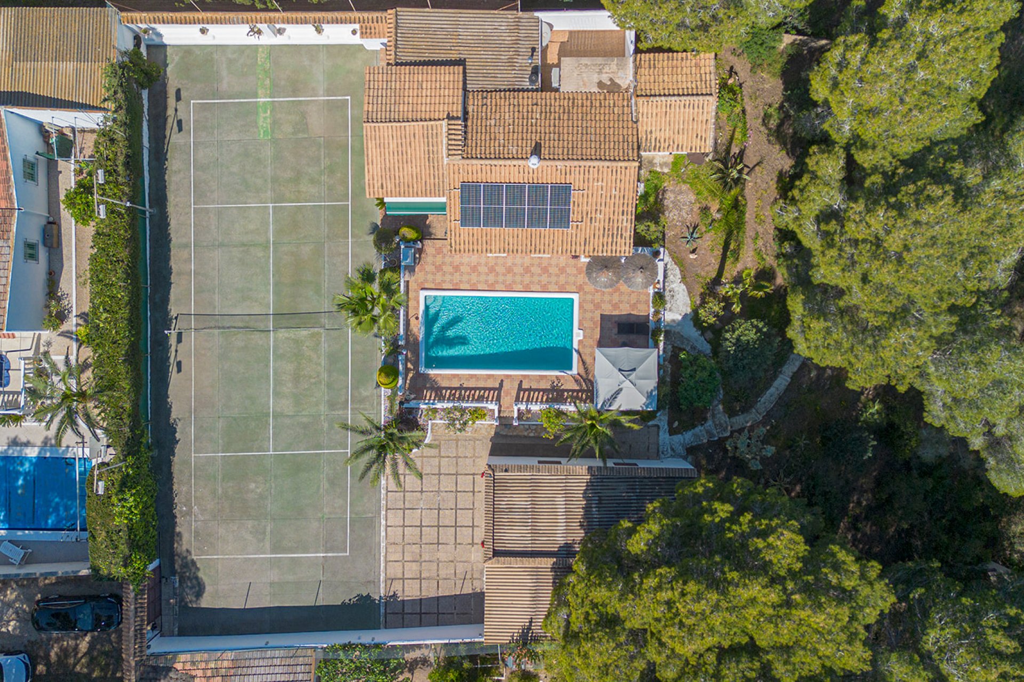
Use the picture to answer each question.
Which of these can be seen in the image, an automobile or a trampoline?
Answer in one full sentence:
There is an automobile in the scene.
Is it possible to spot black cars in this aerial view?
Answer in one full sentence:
Yes, a black car appears in the view.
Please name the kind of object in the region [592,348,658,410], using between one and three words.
gazebo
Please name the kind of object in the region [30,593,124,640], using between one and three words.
car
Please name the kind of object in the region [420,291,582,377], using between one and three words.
swimming pool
